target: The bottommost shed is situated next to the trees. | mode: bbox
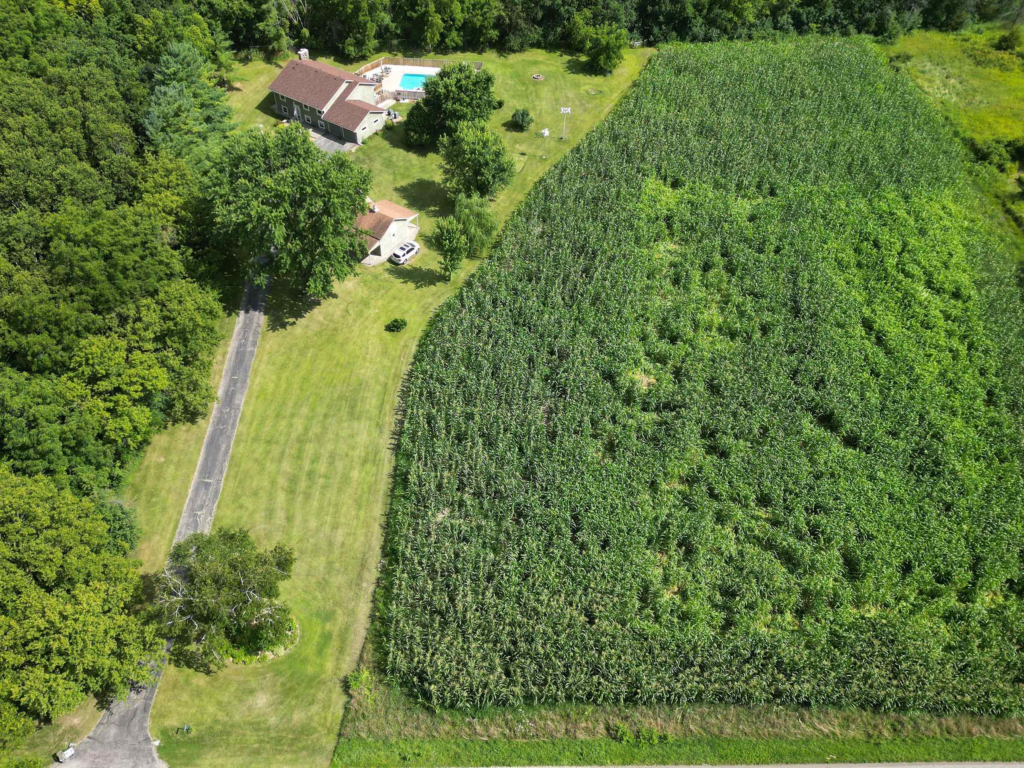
[341,199,421,265]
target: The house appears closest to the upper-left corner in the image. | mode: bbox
[268,45,386,146]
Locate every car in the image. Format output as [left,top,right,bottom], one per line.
[390,241,422,265]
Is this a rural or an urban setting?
rural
